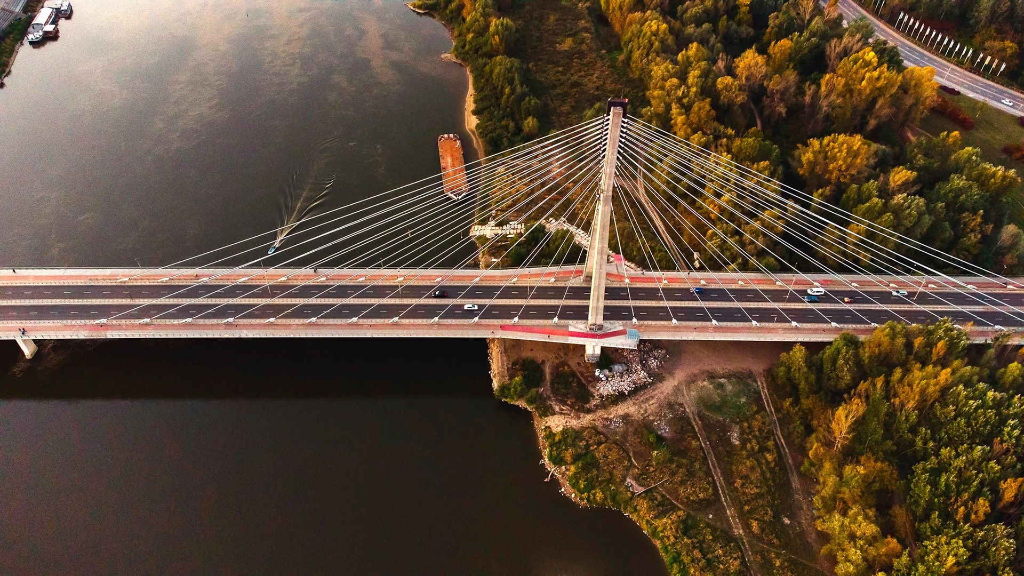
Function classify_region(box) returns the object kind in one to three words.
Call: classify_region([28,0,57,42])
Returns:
boat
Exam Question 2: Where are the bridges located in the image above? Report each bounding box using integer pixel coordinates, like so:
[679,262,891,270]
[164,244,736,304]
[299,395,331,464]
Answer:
[0,93,1024,361]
